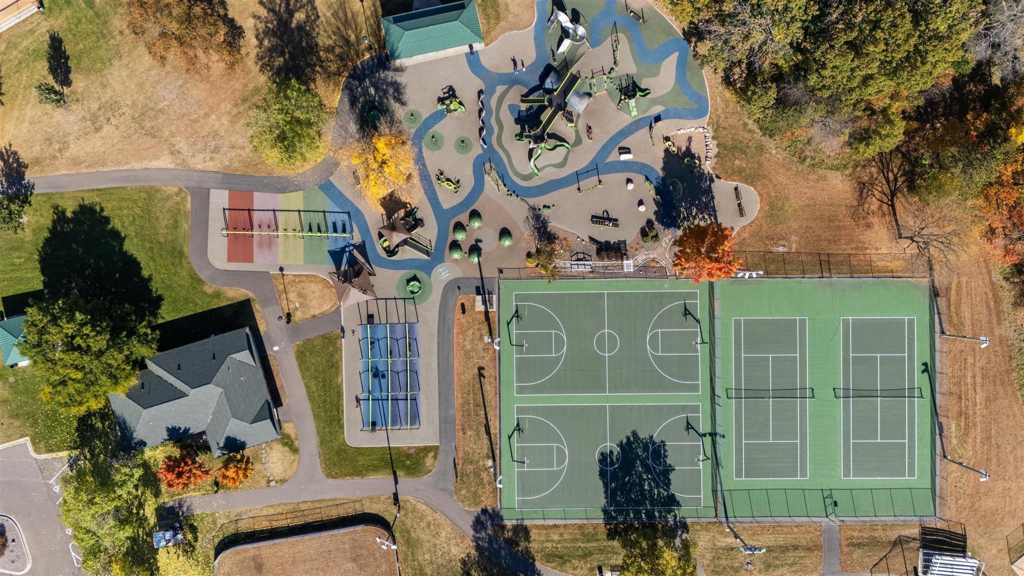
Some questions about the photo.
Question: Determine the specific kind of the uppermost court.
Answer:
basketball court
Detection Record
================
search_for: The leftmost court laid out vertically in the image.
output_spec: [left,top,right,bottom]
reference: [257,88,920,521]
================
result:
[733,318,809,479]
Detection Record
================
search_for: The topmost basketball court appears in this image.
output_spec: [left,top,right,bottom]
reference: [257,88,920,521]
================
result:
[514,291,701,396]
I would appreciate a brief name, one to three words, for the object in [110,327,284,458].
building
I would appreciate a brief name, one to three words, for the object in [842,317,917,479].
tennis court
